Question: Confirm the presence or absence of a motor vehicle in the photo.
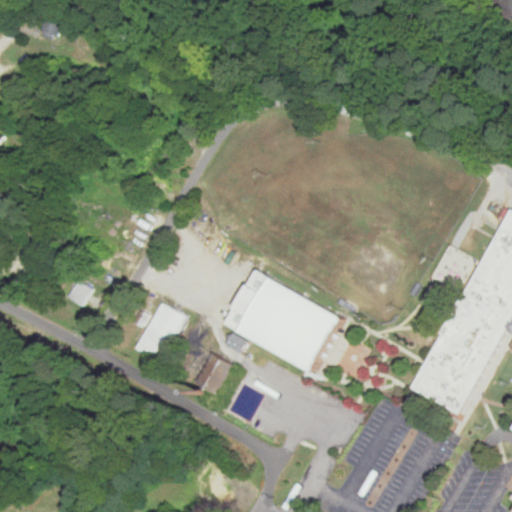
Yes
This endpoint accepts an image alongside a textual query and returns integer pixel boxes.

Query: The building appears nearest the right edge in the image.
[408,211,512,414]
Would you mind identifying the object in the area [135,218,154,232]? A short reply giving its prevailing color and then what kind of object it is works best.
white vehicle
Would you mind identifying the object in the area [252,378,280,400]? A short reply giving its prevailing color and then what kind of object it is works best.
white bus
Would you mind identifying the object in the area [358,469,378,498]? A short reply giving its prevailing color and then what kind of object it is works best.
white bus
